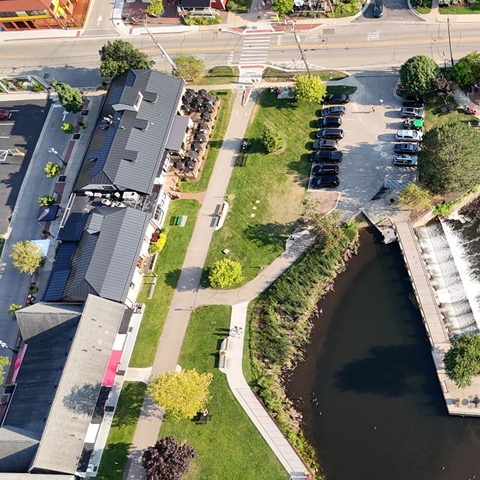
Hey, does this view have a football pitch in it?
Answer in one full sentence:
No, no football pitch is visible in the scene.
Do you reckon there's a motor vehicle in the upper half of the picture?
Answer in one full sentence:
Yes, I can see a motor vehicle in the upper half of the picture.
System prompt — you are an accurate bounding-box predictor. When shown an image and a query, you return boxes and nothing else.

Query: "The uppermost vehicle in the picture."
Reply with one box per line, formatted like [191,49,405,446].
[370,0,383,16]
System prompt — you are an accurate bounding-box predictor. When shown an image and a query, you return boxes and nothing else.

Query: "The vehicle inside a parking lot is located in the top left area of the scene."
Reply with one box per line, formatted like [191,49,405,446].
[0,108,13,121]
